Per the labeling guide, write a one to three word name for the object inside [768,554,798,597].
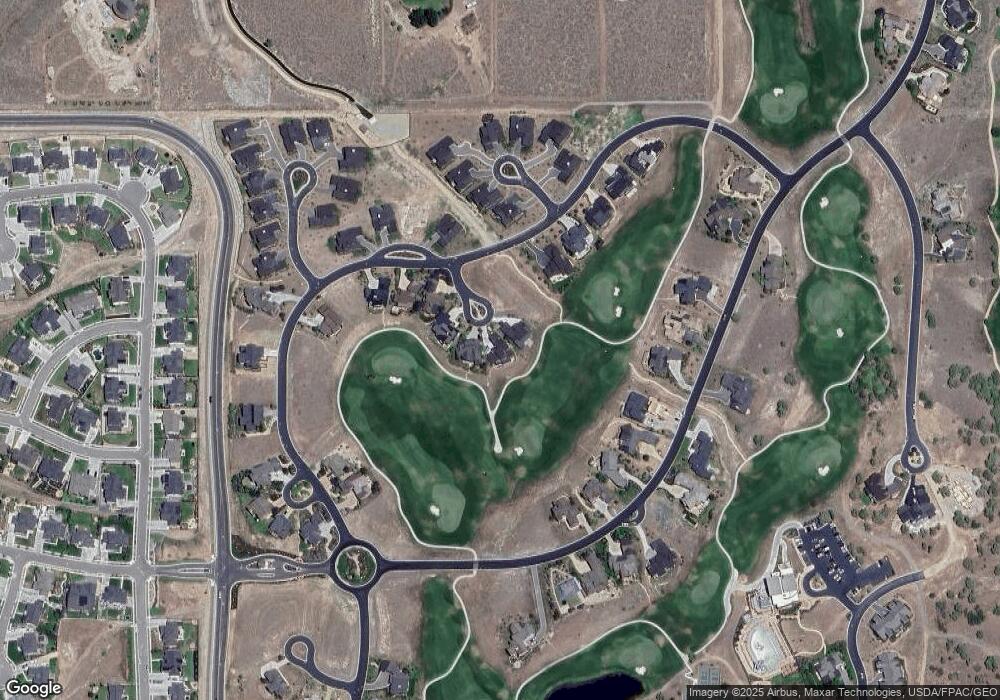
building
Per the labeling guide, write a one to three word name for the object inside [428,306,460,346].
house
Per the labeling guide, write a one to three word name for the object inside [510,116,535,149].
house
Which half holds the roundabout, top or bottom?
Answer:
bottom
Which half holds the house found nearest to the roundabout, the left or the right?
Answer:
left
